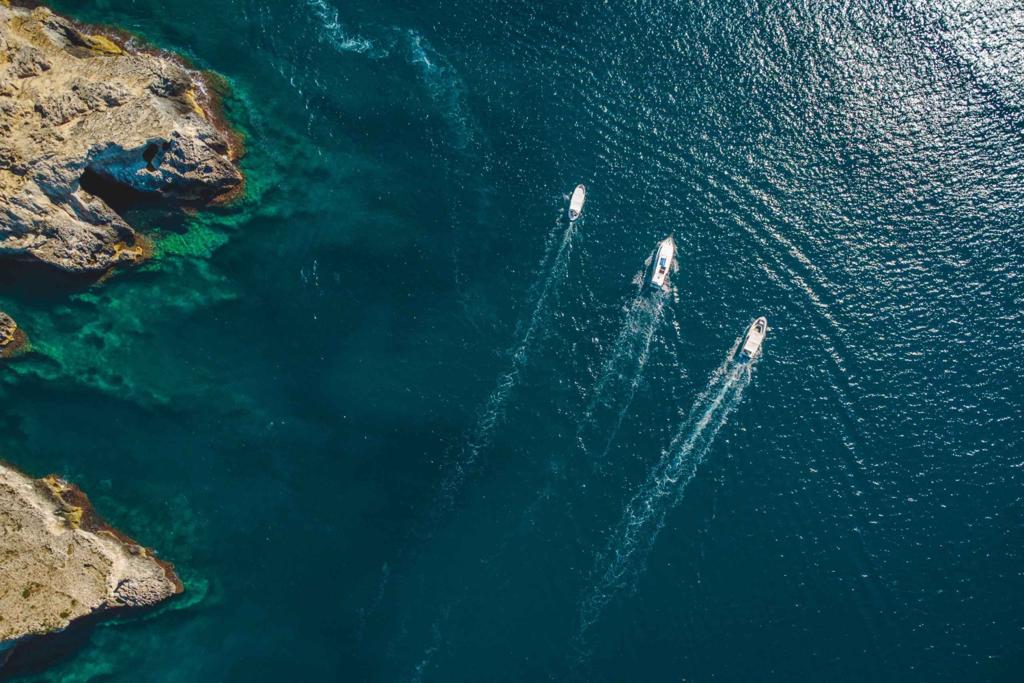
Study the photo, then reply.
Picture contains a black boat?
No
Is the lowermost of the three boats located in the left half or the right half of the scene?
right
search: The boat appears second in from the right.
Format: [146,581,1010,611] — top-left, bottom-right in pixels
[649,232,674,288]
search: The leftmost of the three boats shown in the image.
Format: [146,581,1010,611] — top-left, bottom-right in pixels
[568,183,586,221]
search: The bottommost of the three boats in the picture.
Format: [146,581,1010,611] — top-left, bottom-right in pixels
[740,316,767,358]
